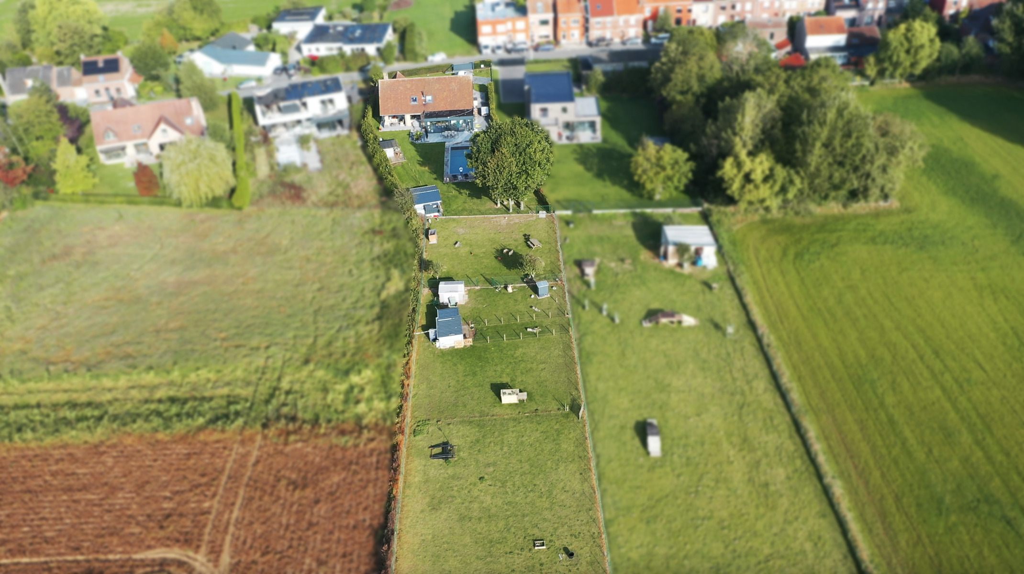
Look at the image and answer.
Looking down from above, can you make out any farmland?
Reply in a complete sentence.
Yes, farmland shows up in the scene.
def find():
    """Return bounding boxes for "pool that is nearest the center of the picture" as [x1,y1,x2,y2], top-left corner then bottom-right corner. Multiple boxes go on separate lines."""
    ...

[440,141,473,181]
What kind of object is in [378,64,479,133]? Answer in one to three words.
house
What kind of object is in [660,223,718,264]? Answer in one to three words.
building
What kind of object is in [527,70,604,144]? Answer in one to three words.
house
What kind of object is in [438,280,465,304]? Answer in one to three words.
shed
